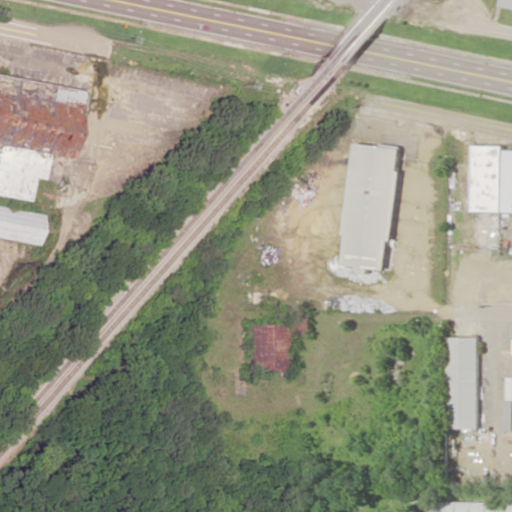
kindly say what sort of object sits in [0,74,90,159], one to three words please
building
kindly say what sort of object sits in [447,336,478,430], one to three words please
shed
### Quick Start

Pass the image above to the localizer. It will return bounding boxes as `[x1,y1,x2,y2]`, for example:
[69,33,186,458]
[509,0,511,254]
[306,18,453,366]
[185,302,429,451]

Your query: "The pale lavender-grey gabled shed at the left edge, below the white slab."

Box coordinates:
[0,206,49,246]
